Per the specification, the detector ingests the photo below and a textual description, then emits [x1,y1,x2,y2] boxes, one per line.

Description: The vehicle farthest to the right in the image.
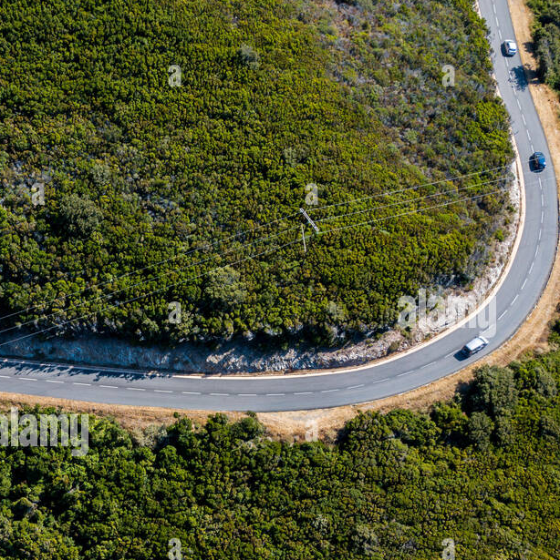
[532,153,546,170]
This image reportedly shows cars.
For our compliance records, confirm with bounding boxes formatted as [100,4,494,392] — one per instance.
[503,39,517,57]
[462,337,487,355]
[532,153,546,170]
